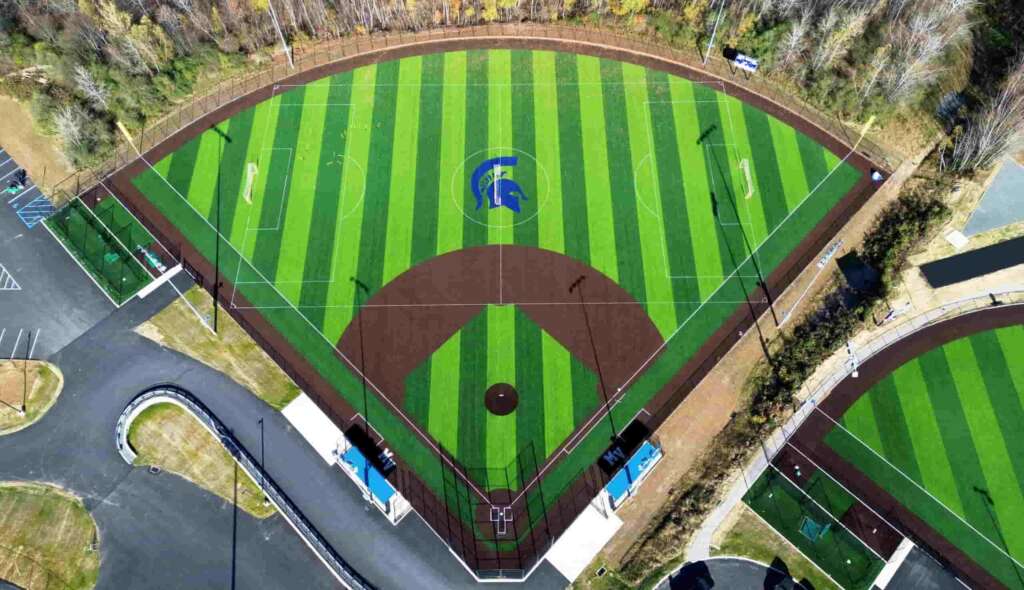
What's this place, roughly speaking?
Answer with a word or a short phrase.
sports ground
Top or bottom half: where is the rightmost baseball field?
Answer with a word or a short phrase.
bottom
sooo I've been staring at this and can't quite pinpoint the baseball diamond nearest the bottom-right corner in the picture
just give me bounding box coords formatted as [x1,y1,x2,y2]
[789,305,1024,590]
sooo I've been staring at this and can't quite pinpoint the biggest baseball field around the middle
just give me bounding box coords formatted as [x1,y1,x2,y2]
[105,37,889,579]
